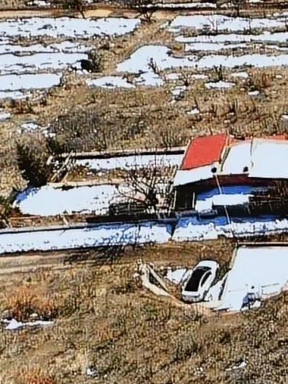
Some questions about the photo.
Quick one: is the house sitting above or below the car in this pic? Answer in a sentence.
The house is found above the car in the photo.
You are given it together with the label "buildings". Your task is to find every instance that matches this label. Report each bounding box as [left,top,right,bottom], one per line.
[173,132,288,207]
